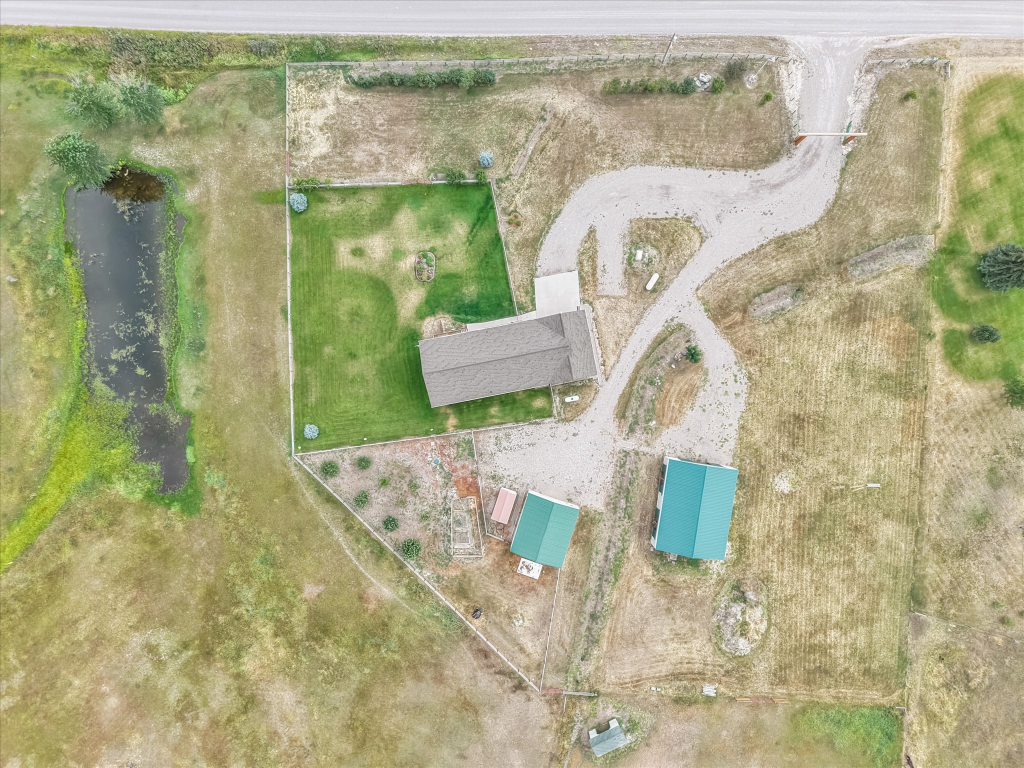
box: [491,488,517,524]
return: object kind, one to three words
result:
shed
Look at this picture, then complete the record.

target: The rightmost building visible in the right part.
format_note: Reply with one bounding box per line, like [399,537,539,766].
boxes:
[651,457,739,560]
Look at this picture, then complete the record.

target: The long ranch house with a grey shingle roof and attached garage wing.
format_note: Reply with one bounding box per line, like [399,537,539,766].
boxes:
[414,306,598,408]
